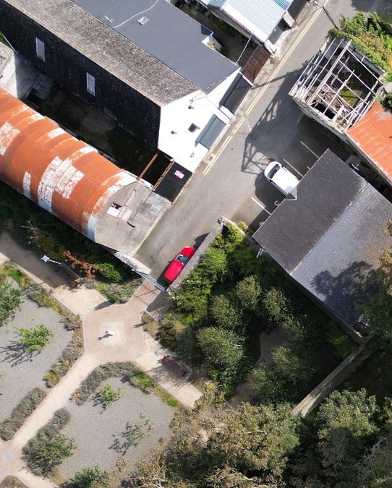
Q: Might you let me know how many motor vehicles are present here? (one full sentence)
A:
There are 2 motor vehicles in the image.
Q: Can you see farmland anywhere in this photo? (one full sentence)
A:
No, no farmland is visible.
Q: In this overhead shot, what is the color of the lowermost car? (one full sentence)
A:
In this view, the lowermost car is red.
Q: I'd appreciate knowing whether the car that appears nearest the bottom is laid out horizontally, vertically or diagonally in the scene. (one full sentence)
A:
The car that appears nearest the bottom is oriented diagonally.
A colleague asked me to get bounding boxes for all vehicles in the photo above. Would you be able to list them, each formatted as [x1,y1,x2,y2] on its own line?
[259,158,299,194]
[157,243,194,282]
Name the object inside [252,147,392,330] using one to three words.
building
